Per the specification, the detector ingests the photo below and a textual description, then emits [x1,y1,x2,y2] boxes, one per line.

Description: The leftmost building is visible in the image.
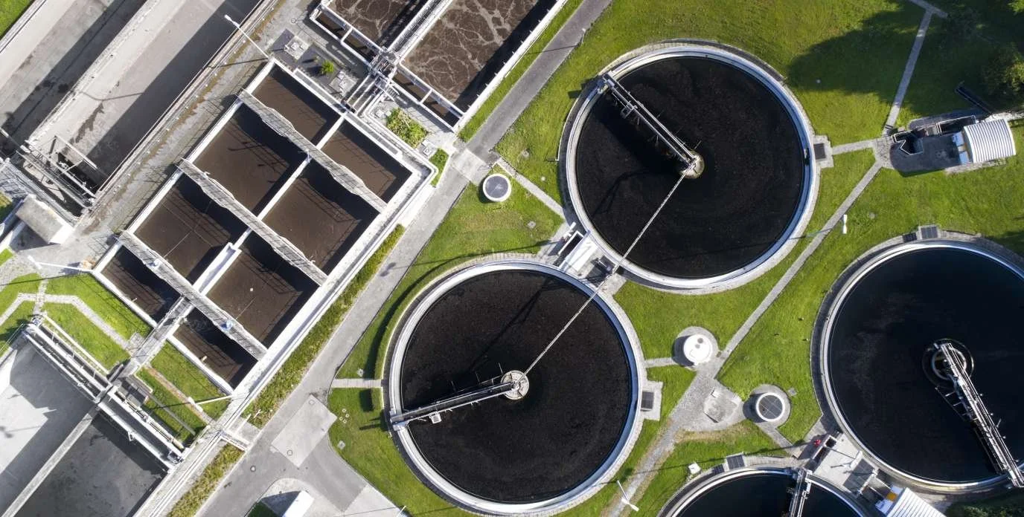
[17,193,74,244]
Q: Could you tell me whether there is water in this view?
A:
Yes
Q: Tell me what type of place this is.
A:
industrial area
